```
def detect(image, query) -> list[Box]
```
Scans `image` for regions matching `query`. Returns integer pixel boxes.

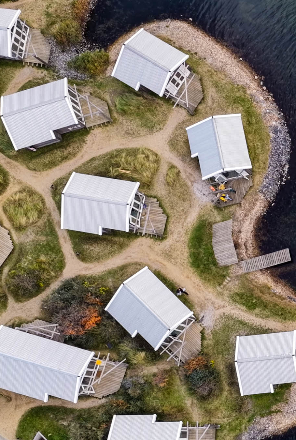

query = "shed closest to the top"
[0,9,57,74]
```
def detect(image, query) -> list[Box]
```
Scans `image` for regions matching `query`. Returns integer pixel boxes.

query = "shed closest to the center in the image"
[60,172,171,246]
